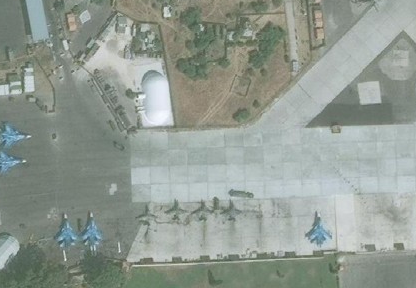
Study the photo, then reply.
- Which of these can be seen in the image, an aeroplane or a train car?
aeroplane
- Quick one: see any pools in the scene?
No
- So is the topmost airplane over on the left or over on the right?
left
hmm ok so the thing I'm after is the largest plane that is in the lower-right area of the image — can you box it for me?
[307,213,330,249]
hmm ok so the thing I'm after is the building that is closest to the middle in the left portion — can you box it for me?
[134,72,171,124]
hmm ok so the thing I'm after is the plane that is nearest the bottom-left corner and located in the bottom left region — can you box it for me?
[54,214,77,249]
